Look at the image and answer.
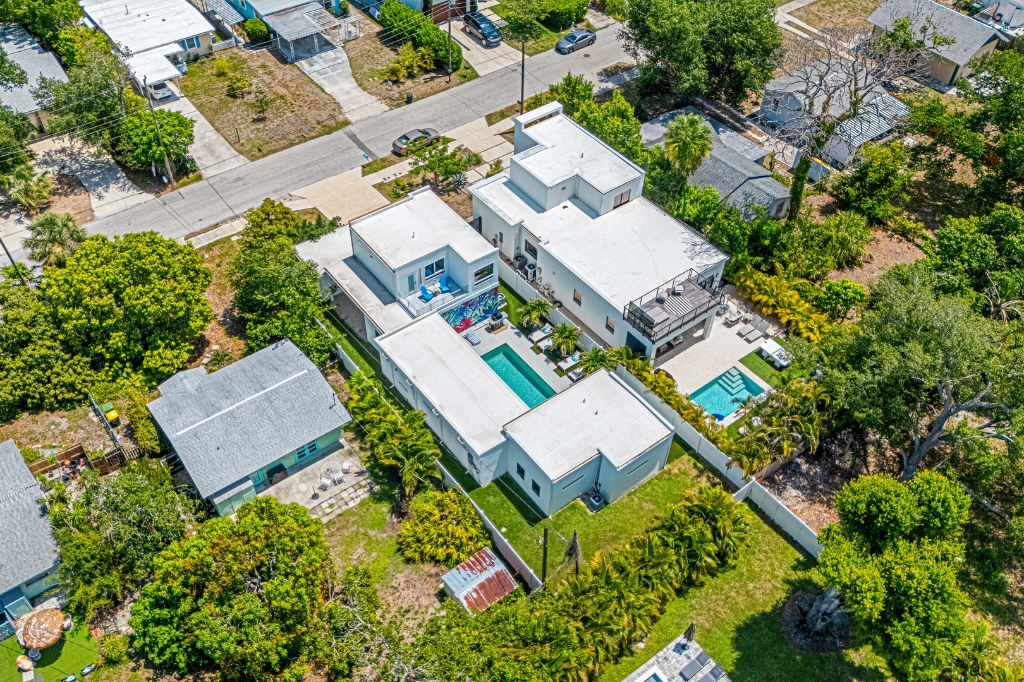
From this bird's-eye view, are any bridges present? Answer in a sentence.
No, I find no bridge anywhere in the image.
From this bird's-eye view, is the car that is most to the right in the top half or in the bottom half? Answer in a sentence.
You can find the car that is most to the right in the top half.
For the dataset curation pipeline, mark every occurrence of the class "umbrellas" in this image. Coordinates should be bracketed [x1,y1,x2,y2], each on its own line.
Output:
[682,627,695,650]
[18,606,71,654]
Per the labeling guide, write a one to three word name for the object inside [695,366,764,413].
swimming pool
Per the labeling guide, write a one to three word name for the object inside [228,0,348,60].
house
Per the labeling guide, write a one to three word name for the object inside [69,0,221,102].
house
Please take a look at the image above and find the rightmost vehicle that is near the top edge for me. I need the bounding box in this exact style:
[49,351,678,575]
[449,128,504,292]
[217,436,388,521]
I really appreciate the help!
[557,30,595,52]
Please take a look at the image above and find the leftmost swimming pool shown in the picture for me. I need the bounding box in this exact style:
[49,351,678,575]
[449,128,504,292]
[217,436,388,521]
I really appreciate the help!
[483,345,556,408]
